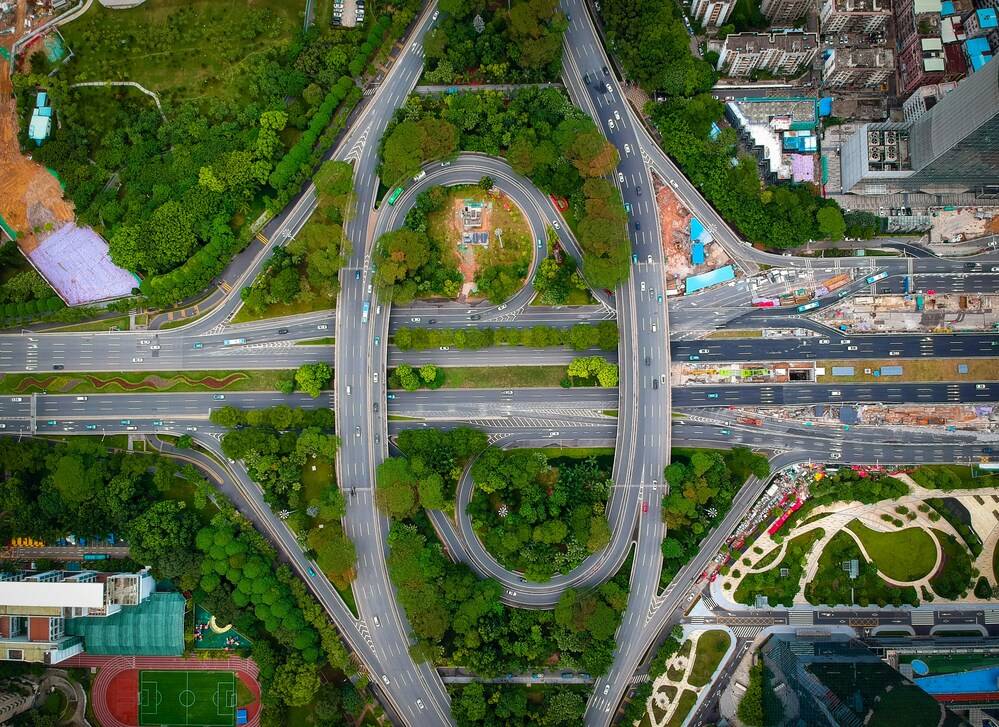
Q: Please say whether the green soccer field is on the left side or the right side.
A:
left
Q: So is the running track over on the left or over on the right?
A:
left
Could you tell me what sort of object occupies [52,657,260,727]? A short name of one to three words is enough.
running track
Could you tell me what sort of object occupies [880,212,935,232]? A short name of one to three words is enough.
building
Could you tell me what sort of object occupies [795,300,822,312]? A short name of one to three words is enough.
vehicle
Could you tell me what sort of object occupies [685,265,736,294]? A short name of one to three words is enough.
shed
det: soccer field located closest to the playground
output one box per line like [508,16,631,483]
[139,669,237,727]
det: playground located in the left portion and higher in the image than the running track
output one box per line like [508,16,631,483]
[194,605,251,651]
